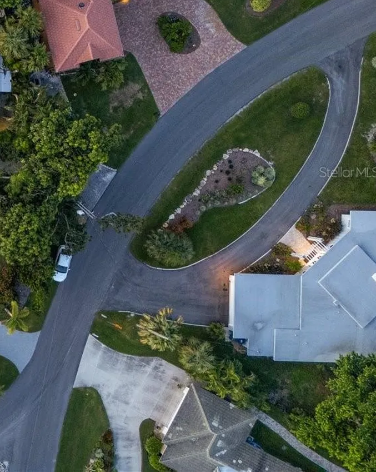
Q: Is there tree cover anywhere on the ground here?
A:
Yes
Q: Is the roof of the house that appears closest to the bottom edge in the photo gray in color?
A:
Yes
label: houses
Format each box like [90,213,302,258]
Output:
[36,0,125,73]
[155,380,304,472]
[224,210,376,364]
